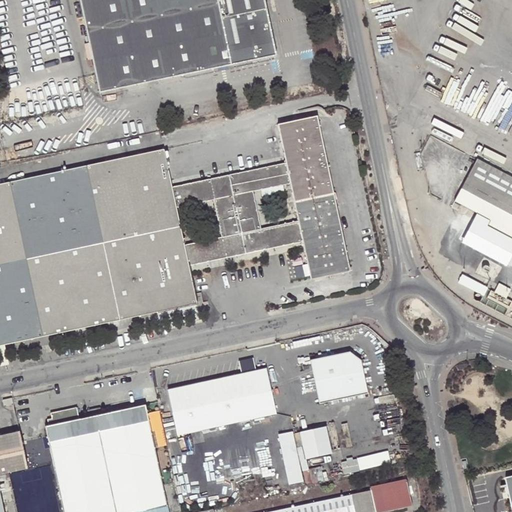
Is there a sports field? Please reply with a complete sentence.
No, no sports field is visible in the view.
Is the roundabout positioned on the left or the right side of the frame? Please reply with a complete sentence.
It is on the right.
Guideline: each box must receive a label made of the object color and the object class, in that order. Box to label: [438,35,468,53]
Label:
white vehicle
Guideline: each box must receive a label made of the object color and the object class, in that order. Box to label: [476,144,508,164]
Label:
white vehicle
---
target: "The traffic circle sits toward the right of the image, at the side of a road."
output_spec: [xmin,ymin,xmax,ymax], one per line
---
[376,256,480,384]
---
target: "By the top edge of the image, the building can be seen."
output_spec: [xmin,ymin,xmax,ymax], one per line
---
[80,0,276,92]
